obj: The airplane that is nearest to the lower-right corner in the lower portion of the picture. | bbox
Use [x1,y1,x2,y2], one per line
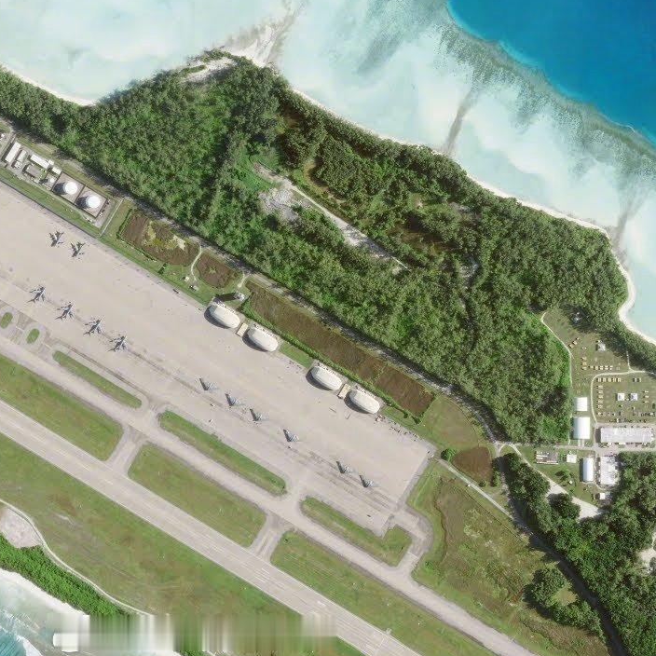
[360,473,381,487]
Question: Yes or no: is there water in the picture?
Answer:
Yes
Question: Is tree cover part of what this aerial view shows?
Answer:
Yes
